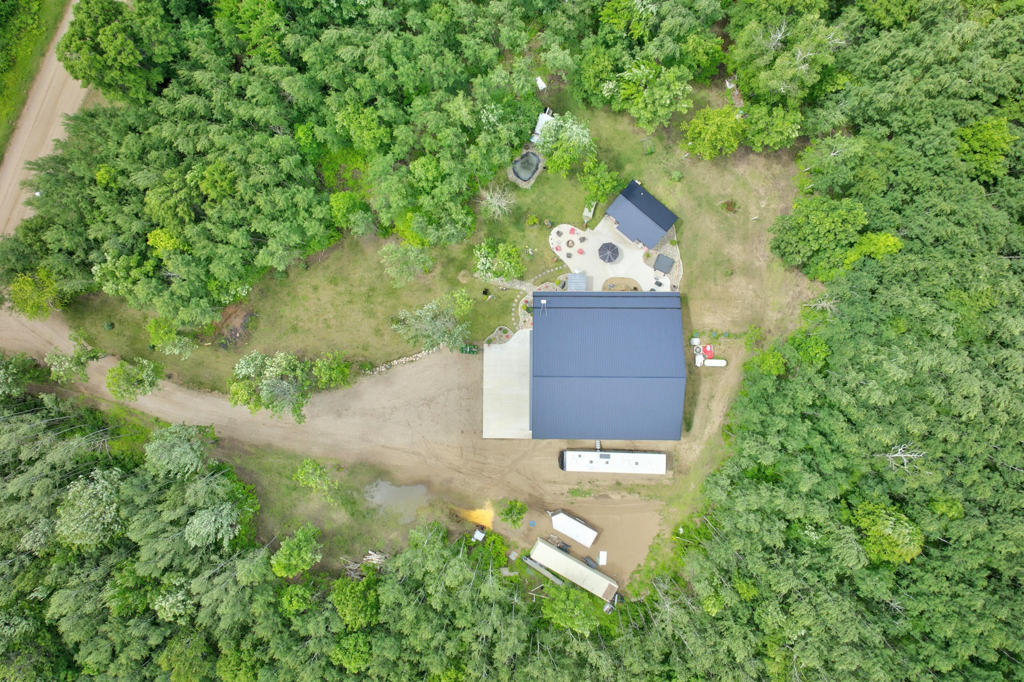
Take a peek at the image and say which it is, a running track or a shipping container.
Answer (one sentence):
This aerial view contains a shipping container.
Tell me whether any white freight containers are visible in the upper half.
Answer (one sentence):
No, I can find no white freight container in the upper half.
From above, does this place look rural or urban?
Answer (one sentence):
From above, the setting appears rural.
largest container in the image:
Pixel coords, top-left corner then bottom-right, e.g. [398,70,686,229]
[530,536,618,603]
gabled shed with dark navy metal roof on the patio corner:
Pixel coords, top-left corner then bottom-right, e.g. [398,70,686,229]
[605,178,678,249]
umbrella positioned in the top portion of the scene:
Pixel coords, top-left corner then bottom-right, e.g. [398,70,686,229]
[598,243,619,264]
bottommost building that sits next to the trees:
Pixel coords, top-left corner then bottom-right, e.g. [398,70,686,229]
[528,291,686,440]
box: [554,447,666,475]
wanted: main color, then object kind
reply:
white vehicle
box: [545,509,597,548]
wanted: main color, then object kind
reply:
white trailer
